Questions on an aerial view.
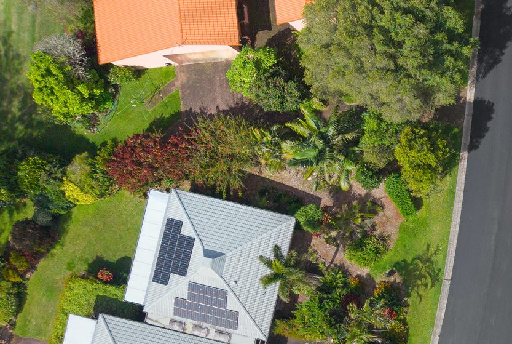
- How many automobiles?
zero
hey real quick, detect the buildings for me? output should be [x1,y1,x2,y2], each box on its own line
[97,0,242,68]
[277,0,333,32]
[125,188,299,344]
